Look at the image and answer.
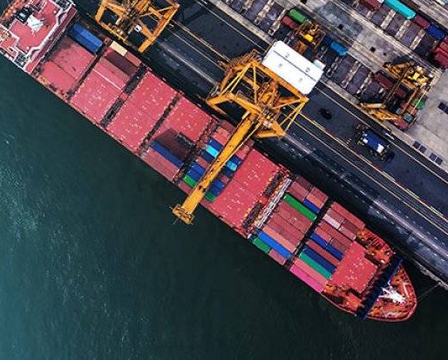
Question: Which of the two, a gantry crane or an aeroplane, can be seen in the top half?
gantry crane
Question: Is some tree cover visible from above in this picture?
No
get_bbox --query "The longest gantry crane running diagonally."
[169,21,329,227]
